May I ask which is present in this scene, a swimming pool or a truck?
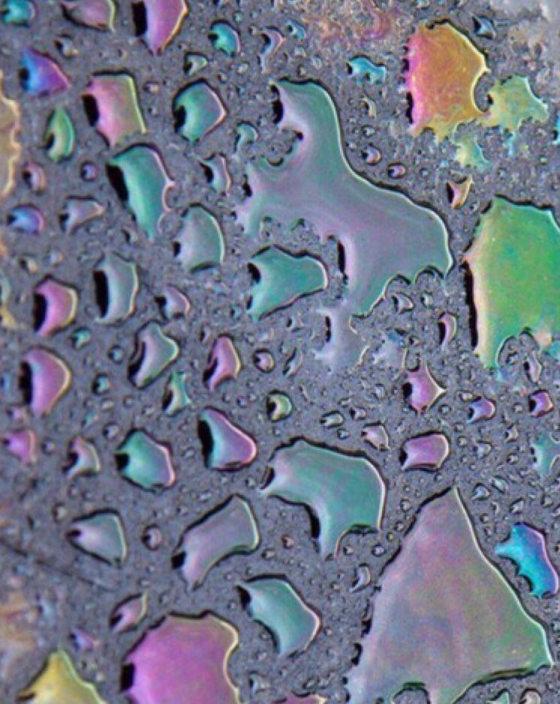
swimming pool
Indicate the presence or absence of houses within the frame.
No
